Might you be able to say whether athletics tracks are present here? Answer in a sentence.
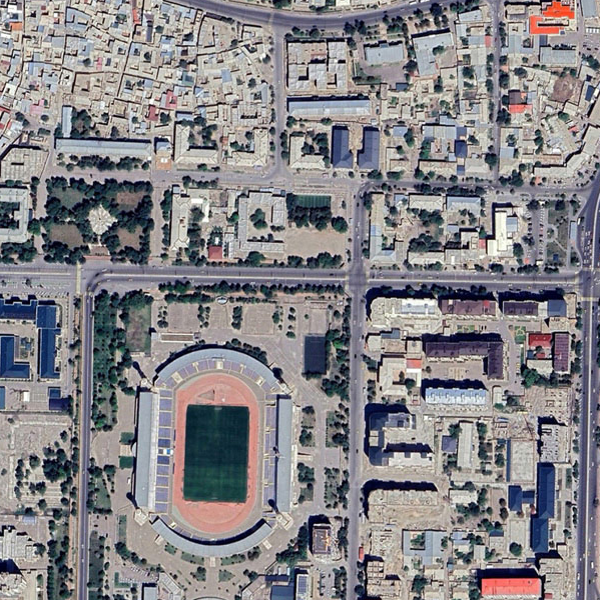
Yes, an athletics track can be made out from above.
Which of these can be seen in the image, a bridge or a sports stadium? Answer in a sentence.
It is a sports stadium that can be seen here.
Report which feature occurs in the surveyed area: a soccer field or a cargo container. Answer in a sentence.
Visible in the photo is a soccer field.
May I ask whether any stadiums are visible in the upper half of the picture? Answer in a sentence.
No, in the upper half of the picture there is no stadium.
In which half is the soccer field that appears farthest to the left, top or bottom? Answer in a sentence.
The bottom half of the photo is where the soccer field that appears farthest to the left is.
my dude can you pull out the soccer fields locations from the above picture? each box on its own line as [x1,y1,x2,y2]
[185,406,249,502]
[297,195,330,207]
